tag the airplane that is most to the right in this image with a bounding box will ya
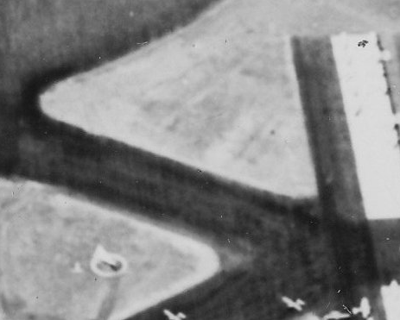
[349,298,371,319]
